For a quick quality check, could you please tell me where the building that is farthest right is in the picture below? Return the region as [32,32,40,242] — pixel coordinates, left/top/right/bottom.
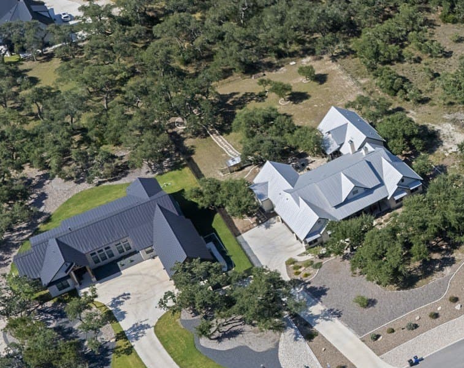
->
[249,106,425,247]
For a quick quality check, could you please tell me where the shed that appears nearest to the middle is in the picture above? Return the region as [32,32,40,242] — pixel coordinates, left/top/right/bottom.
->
[218,150,242,171]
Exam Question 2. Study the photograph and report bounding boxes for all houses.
[0,0,57,53]
[11,178,214,297]
[249,106,425,247]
